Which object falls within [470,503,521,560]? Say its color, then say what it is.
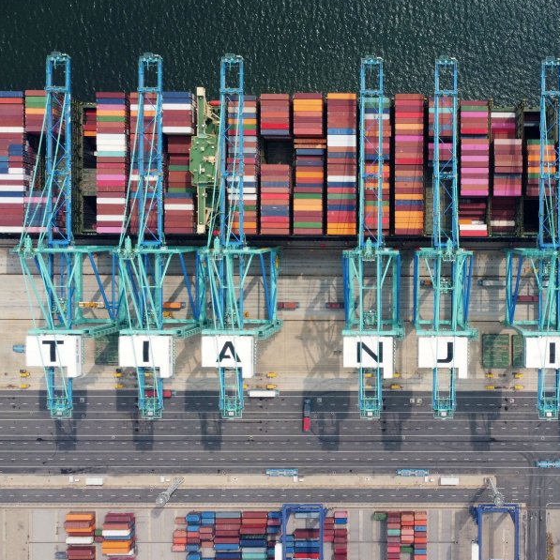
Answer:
blue container crane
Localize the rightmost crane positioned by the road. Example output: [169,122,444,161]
[499,55,560,419]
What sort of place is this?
port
